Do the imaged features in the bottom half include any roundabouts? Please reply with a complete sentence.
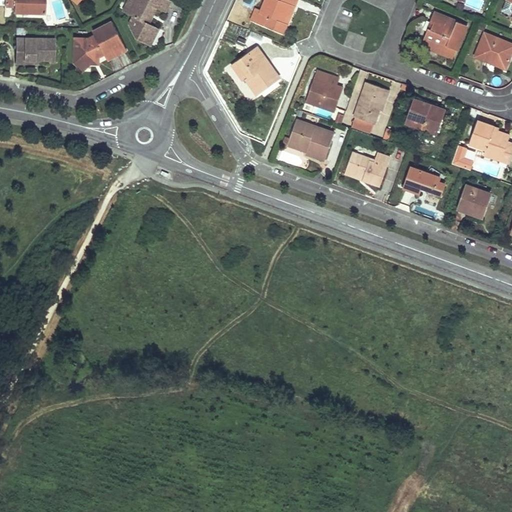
No, there's no roundabout to be seen in the bottom half.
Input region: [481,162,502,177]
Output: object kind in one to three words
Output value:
swimming pool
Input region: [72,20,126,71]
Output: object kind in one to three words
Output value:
house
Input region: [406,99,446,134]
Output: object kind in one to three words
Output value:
house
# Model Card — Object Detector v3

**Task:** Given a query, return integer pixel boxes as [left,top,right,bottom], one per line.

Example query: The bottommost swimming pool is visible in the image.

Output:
[414,205,436,218]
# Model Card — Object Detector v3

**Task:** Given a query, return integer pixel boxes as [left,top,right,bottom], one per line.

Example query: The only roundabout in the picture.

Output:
[113,104,178,164]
